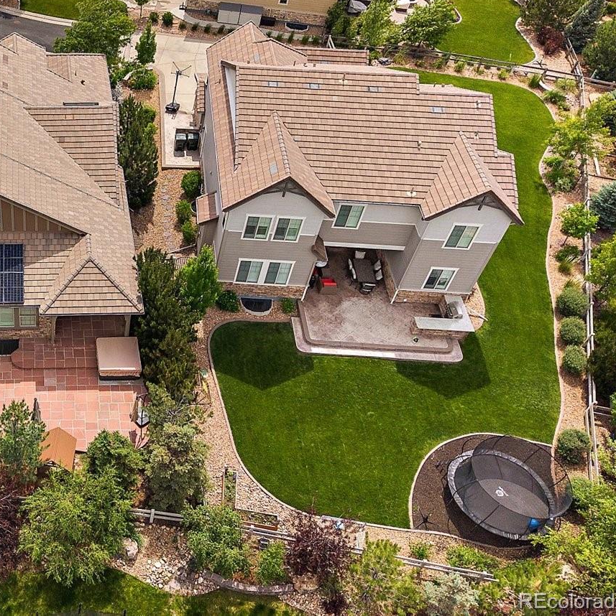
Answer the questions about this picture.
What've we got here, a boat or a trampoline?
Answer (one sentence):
It is a trampoline that can be seen here.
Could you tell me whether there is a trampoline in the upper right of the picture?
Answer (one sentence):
No, I can find no trampoline in the upper right of the picture.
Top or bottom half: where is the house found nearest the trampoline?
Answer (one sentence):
It is in the top half that the house found nearest the trampoline appears.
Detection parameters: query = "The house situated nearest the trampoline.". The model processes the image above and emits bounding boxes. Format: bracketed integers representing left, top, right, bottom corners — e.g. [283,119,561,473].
[193,20,524,321]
